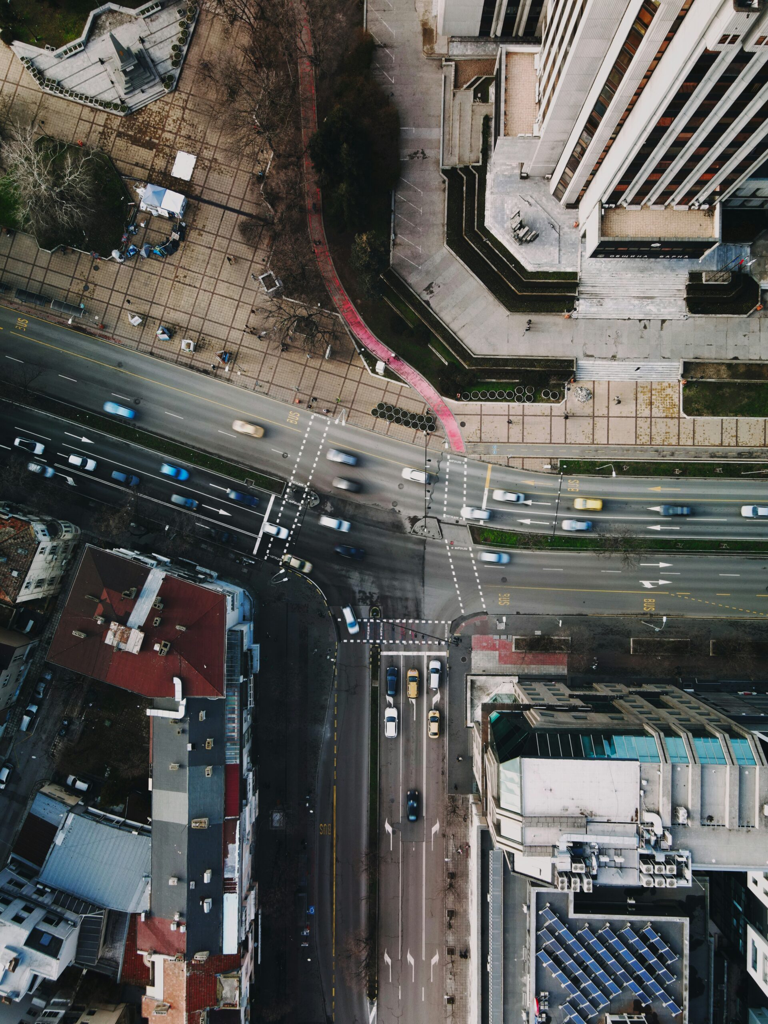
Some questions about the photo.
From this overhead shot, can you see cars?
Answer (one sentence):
Yes, there's a car down there.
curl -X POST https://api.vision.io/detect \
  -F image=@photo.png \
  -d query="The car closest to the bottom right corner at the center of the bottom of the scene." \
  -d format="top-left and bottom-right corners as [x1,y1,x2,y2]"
[405,790,420,822]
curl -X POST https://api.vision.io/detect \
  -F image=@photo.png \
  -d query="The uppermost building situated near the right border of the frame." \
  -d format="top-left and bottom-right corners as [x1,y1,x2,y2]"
[495,0,768,261]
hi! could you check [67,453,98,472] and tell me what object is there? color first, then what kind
white car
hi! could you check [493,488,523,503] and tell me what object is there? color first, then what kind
white car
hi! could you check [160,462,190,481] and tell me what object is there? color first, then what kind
blue car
